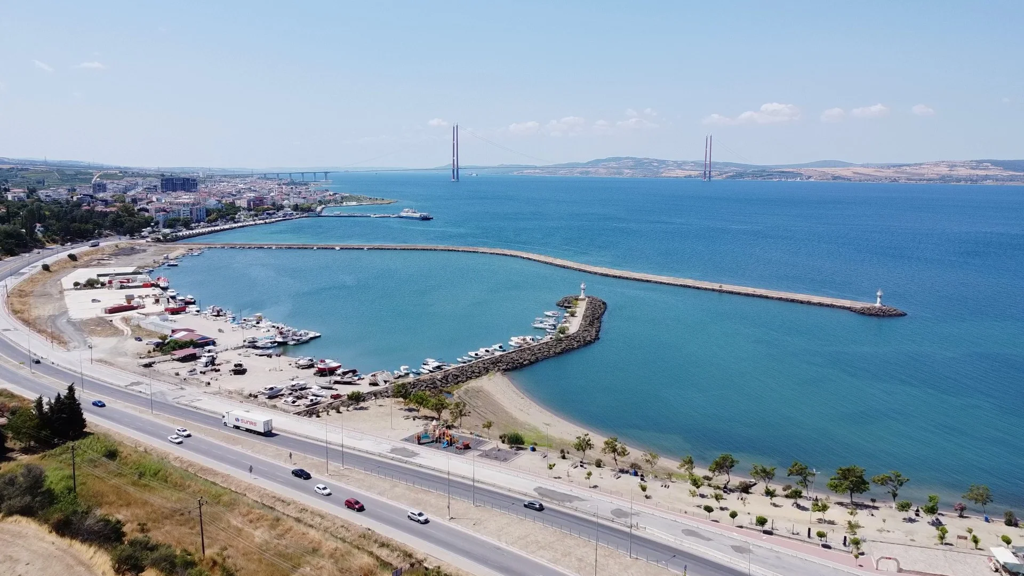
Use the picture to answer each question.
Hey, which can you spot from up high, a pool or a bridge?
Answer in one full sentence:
This aerial view contains a bridge.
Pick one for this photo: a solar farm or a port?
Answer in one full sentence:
This looks like a port.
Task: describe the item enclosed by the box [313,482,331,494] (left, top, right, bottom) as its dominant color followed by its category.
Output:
white vehicle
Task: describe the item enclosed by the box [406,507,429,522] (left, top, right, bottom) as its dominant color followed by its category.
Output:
white car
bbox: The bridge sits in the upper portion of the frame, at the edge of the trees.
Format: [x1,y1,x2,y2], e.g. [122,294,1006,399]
[186,122,794,181]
